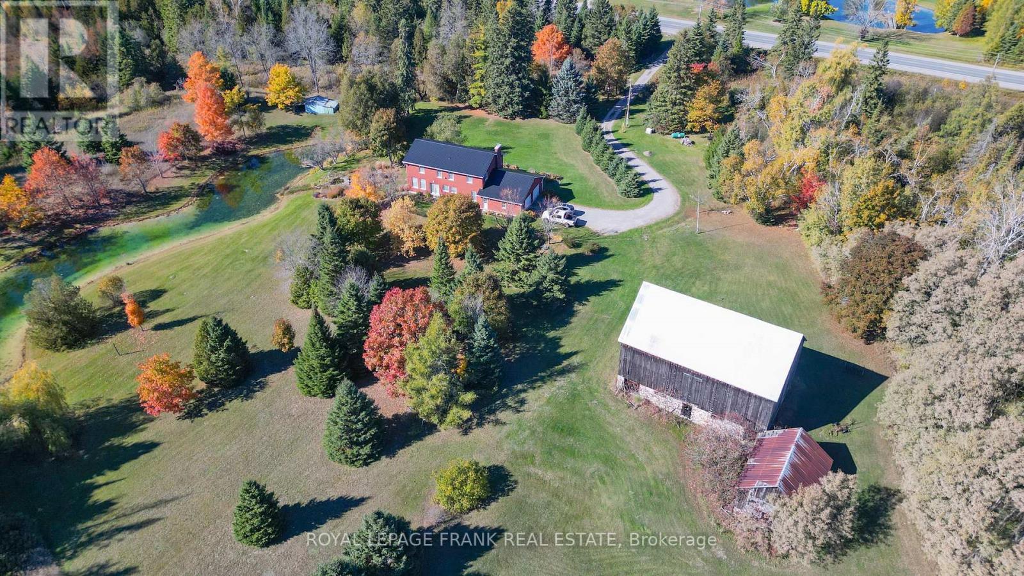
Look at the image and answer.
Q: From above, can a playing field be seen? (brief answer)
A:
No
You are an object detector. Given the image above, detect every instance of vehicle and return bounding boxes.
[540,210,576,227]
[546,201,573,214]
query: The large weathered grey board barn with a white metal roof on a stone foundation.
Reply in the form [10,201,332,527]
[617,279,805,450]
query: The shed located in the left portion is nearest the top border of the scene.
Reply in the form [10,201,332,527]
[293,95,339,113]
